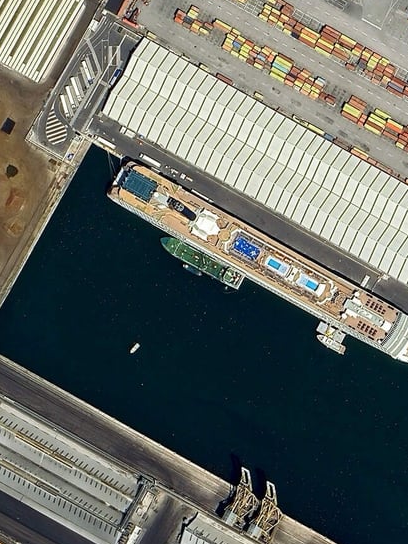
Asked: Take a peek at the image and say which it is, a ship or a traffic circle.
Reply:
ship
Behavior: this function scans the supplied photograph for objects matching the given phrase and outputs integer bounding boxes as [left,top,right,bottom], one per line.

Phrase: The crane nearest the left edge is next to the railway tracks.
[226,465,262,524]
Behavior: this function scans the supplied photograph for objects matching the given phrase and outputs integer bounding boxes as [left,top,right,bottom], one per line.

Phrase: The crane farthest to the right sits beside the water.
[251,478,289,537]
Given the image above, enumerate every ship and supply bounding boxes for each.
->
[160,237,247,290]
[114,160,408,366]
